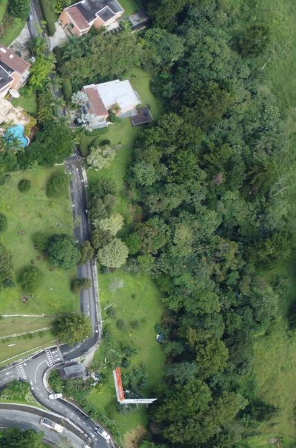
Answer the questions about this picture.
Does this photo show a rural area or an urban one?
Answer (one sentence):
It looks rural.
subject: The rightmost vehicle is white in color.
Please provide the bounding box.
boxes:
[98,427,113,442]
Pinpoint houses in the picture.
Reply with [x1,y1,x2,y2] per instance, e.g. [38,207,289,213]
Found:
[58,0,125,40]
[75,79,143,128]
[0,45,32,100]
